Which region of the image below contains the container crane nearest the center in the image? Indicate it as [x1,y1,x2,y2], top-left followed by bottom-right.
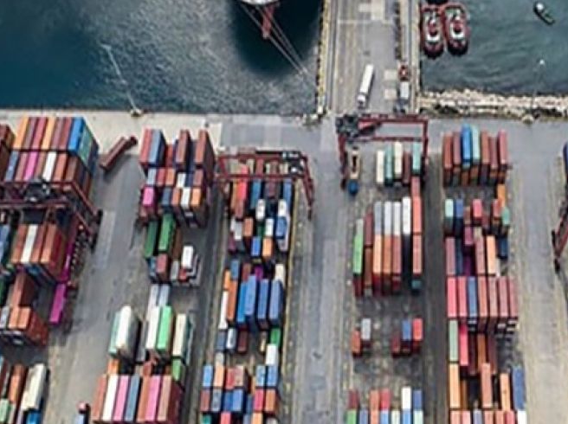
[215,148,320,218]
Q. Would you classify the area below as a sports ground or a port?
port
